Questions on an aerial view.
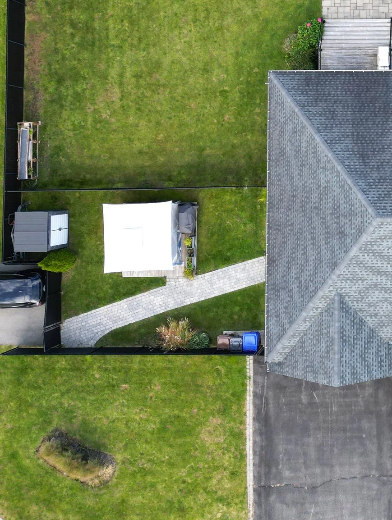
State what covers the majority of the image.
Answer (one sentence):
Most of the picture is covered by grass.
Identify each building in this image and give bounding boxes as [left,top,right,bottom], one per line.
[263,68,392,387]
[10,210,69,251]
